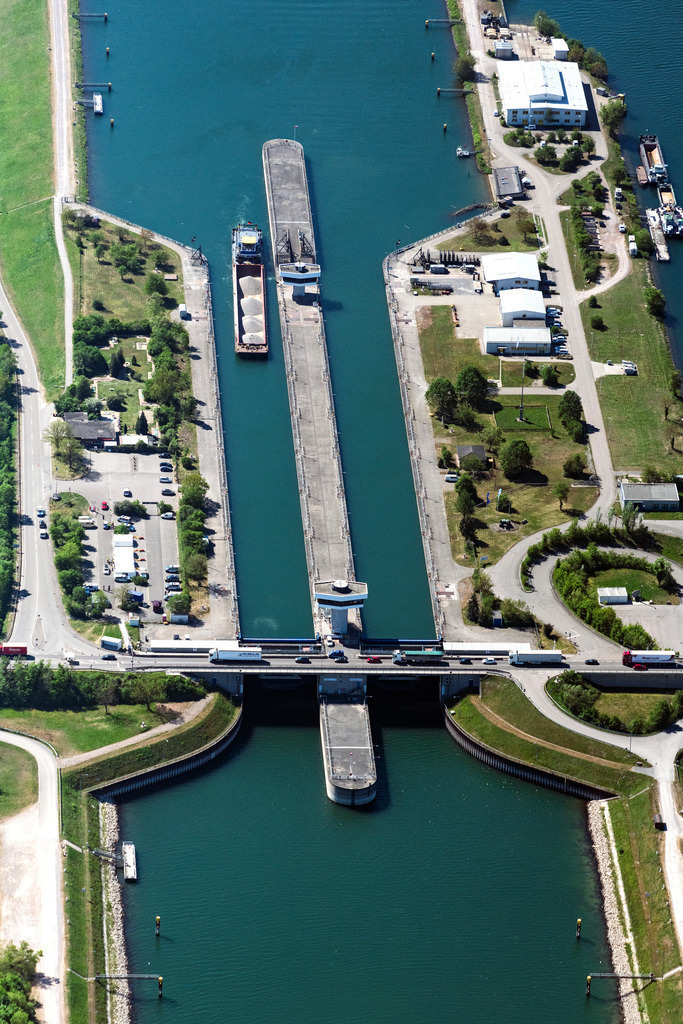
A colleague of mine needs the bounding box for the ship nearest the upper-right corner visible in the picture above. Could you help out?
[636,129,674,183]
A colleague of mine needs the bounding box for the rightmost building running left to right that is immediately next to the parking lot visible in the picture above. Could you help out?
[149,638,242,653]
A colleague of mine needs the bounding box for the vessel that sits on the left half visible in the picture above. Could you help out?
[233,216,270,357]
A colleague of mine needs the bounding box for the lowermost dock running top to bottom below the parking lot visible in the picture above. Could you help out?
[122,837,137,878]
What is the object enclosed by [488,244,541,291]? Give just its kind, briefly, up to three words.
building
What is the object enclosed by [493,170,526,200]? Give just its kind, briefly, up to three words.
building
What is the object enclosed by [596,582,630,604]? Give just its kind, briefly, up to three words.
shed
